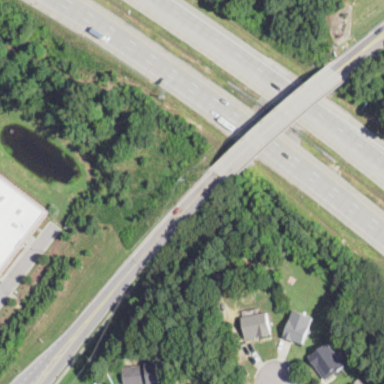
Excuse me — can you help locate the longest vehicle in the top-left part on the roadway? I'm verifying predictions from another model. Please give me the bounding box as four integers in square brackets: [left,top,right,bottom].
[86,25,111,44]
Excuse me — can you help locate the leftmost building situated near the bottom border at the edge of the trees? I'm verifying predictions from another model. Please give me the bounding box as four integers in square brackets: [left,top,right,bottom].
[122,362,144,384]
